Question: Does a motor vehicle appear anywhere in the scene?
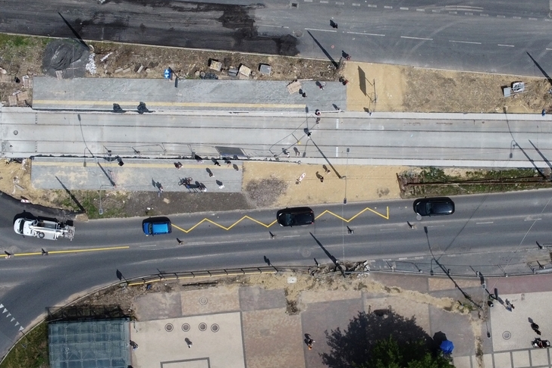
Yes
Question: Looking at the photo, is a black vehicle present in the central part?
Yes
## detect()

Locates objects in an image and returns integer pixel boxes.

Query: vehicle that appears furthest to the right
[413,198,454,217]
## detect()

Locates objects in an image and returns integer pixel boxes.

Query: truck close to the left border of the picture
[15,215,82,240]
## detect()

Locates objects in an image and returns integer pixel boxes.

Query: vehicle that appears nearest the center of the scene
[277,207,315,226]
